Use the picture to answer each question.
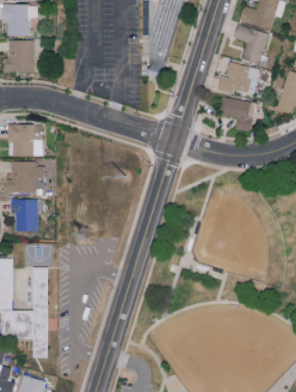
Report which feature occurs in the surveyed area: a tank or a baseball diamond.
baseball diamond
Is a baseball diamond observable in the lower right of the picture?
Yes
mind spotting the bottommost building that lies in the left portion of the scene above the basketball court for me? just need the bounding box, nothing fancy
[10,200,39,232]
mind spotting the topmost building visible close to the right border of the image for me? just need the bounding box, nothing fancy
[240,0,286,32]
